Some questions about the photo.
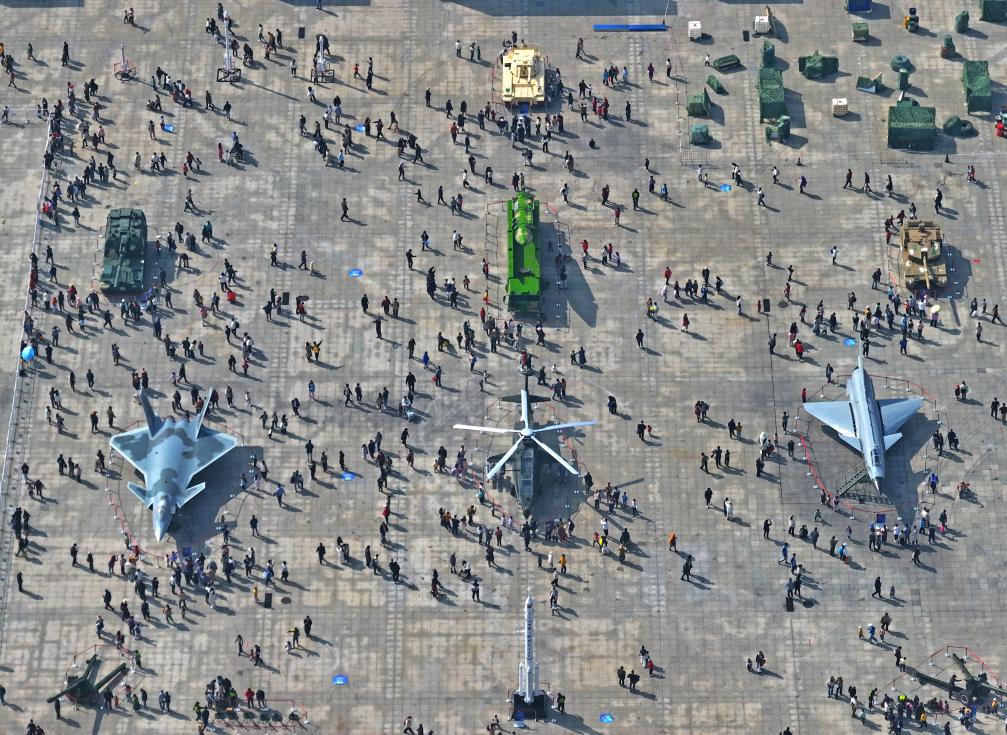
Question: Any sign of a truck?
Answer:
Yes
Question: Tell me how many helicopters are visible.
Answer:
1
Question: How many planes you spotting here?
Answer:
2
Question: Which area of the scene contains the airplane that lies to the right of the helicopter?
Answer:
right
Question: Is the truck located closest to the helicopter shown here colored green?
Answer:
Yes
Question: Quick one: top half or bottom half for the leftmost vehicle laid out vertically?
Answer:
top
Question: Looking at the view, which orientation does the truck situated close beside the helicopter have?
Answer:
up and down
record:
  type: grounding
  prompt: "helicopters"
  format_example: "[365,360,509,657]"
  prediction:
[453,361,598,526]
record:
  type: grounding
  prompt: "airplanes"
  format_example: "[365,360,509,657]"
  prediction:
[801,342,922,502]
[112,386,239,542]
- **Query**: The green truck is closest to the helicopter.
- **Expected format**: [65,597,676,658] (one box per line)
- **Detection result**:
[505,185,543,316]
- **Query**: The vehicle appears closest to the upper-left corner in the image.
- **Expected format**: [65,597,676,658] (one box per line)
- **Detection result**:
[99,208,150,295]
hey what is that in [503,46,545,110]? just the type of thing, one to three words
vehicle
